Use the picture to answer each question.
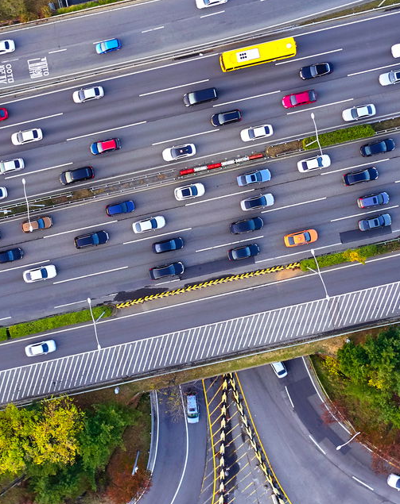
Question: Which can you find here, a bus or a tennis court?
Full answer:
I can see a bus in this picture.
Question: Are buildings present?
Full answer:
No, there isn't any building down there.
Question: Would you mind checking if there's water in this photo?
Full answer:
No, the scene doesn't show any water.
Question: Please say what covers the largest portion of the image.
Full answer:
What you mostly see from above here is paved ground.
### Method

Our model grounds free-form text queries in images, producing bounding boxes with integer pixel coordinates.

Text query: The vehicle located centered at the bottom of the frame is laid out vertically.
[185,392,200,426]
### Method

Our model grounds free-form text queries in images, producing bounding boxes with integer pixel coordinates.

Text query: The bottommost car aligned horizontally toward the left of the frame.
[25,339,58,357]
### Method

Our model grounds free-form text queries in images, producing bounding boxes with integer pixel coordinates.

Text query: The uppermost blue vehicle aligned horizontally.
[96,38,123,54]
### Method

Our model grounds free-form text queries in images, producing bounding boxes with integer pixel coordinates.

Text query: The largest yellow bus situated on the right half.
[217,38,299,72]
